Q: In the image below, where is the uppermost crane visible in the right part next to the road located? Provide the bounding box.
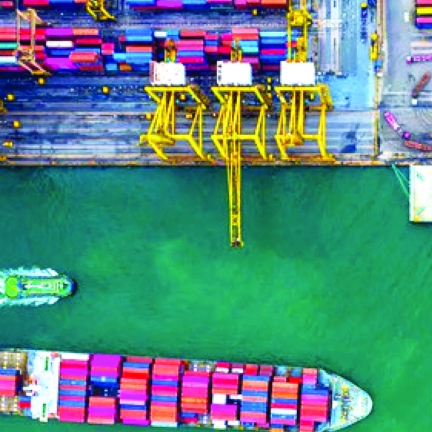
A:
[288,0,306,62]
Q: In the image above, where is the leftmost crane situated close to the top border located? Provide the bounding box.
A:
[16,4,51,74]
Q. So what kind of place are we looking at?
port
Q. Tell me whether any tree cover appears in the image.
No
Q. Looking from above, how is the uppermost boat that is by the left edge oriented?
horizontally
